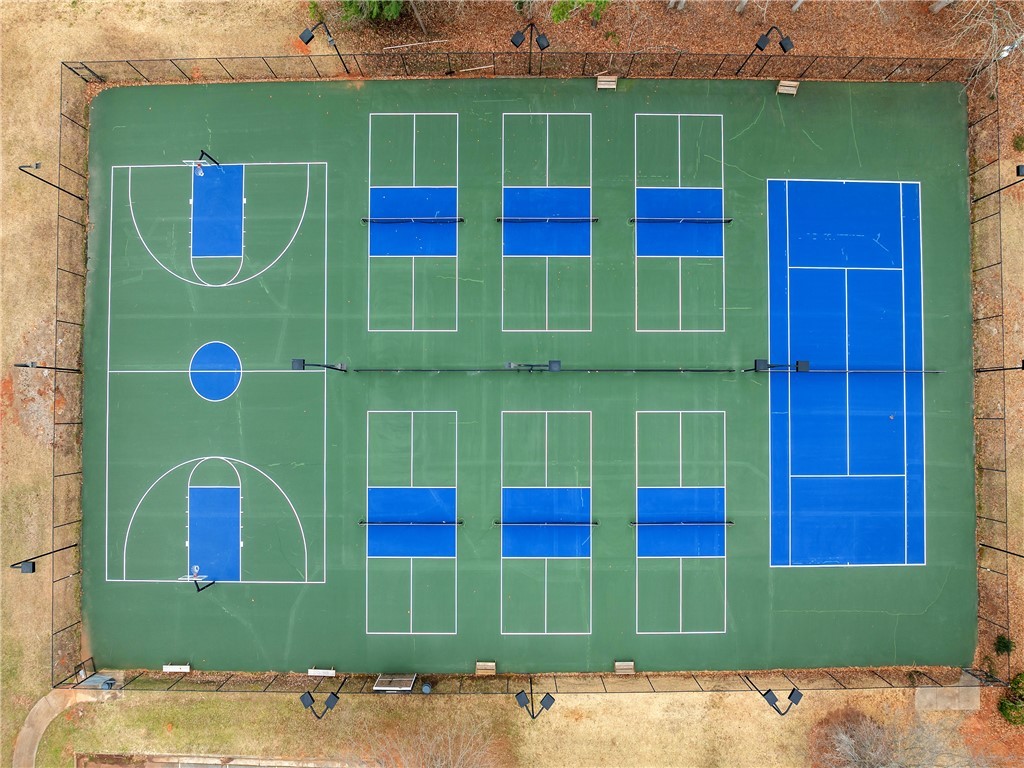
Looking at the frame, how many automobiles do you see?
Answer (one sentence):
No automobiles are visible.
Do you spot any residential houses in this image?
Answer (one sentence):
No, the scene contains no residential house.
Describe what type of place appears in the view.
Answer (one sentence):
This image shows a sports ground.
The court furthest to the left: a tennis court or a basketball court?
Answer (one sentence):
I'd say the court furthest to the left is a basketball court.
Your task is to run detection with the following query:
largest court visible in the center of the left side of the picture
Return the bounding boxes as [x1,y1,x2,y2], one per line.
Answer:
[105,162,328,583]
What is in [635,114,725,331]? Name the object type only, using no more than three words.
sports court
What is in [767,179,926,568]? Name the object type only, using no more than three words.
tennis court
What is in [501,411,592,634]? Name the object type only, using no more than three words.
sports court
